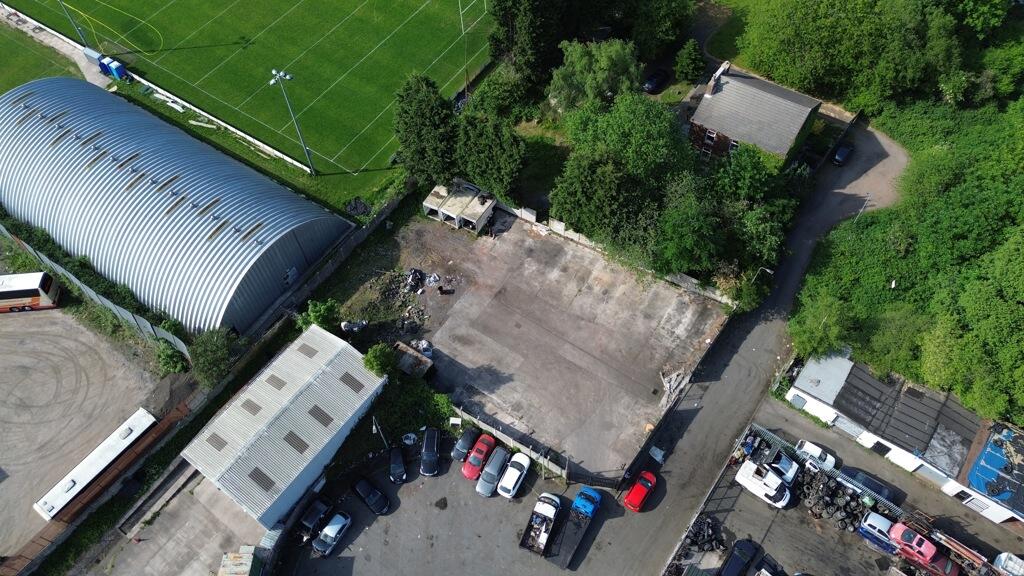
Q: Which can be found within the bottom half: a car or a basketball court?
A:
car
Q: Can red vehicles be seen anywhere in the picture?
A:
Yes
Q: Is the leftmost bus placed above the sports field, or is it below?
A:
below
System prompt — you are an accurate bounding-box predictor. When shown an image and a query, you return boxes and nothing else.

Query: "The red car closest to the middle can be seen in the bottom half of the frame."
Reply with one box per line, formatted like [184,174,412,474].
[464,435,494,478]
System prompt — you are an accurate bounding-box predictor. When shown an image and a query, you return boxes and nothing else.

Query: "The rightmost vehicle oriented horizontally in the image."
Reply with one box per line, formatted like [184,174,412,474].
[914,556,963,576]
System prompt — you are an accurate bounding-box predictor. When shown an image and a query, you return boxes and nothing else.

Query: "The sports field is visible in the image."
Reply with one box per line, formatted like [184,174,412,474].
[0,0,534,214]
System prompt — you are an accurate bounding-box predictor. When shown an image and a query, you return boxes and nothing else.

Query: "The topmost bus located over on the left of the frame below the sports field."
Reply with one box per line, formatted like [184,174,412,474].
[0,272,56,307]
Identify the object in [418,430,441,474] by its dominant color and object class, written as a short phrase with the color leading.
black car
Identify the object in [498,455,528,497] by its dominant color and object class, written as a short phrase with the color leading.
white car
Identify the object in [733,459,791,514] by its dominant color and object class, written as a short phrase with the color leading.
white van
